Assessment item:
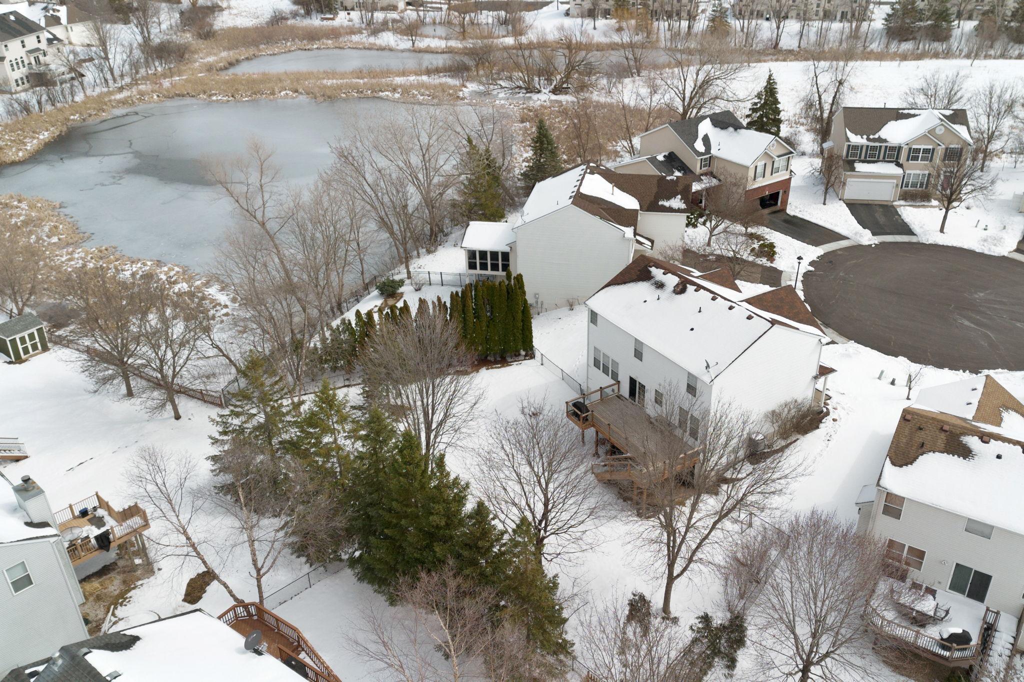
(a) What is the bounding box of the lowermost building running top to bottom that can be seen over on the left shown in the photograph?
[0,471,90,682]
